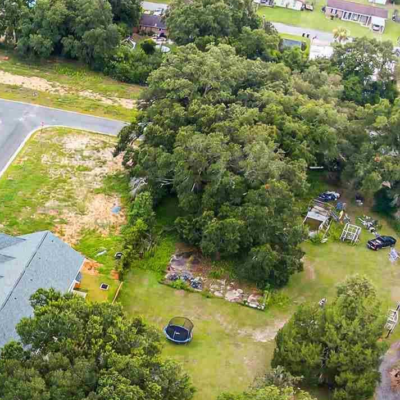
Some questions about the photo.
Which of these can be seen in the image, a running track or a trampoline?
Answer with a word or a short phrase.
trampoline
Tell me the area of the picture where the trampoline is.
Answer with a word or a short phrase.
bottom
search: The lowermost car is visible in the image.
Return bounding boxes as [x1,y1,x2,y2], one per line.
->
[365,237,398,251]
